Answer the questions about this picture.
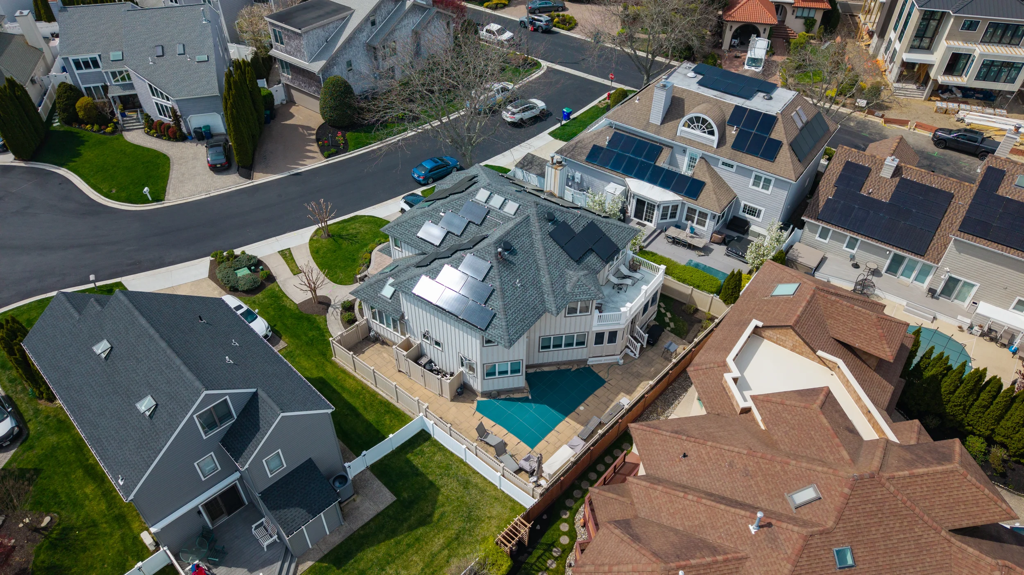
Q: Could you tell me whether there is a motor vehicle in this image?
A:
Yes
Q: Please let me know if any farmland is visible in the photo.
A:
No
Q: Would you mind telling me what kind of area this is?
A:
residential area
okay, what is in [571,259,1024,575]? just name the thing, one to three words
house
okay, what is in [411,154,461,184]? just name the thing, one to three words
car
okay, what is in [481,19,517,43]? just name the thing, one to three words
truck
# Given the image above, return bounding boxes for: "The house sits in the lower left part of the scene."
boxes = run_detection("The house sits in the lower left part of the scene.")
[21,288,348,575]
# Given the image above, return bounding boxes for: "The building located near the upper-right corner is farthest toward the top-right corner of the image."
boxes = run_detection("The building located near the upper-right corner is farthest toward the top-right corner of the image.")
[857,0,1024,100]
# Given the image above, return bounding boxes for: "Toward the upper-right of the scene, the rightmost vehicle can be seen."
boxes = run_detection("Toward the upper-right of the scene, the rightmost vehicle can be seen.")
[933,128,996,160]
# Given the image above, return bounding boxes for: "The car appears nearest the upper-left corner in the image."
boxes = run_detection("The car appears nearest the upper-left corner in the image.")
[203,136,229,167]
